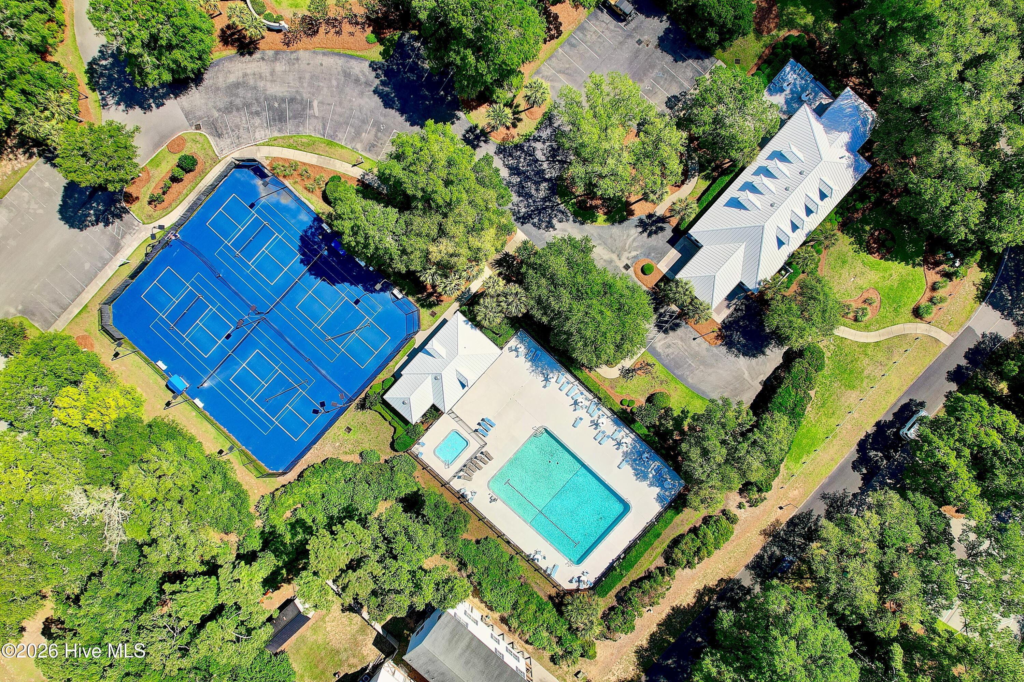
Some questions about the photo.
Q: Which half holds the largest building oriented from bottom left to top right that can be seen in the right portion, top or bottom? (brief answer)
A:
top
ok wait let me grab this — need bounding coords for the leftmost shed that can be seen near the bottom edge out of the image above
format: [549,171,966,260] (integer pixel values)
[271,601,316,649]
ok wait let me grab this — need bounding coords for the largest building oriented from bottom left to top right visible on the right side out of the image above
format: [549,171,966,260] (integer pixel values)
[672,86,882,311]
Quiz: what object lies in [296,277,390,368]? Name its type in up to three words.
sports court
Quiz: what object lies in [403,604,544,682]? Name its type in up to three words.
house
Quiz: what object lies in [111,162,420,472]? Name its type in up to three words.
sports court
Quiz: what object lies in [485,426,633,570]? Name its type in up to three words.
swimming pool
